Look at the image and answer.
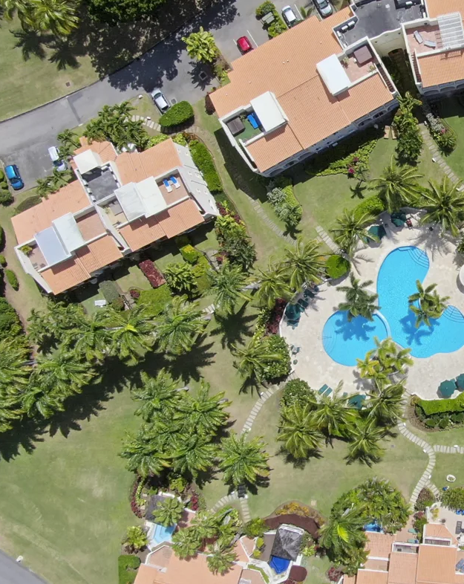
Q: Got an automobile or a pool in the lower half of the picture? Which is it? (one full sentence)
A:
You can see a pool in the lower half of the picture.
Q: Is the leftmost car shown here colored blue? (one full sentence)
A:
Yes, the leftmost car is blue.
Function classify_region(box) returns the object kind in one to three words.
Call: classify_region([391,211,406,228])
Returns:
umbrella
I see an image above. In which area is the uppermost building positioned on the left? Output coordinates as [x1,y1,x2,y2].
[12,137,234,298]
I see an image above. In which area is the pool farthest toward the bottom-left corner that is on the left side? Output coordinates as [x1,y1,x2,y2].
[154,524,175,545]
